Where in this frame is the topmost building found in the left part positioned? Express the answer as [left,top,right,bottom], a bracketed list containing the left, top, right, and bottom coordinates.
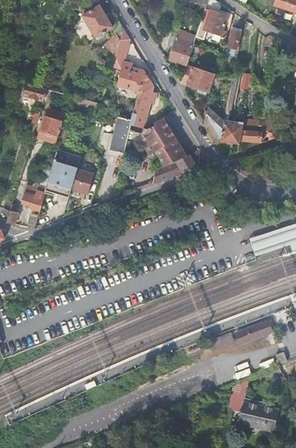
[82,4,112,37]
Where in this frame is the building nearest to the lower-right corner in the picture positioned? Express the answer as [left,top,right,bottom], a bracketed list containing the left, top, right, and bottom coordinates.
[238,400,280,432]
